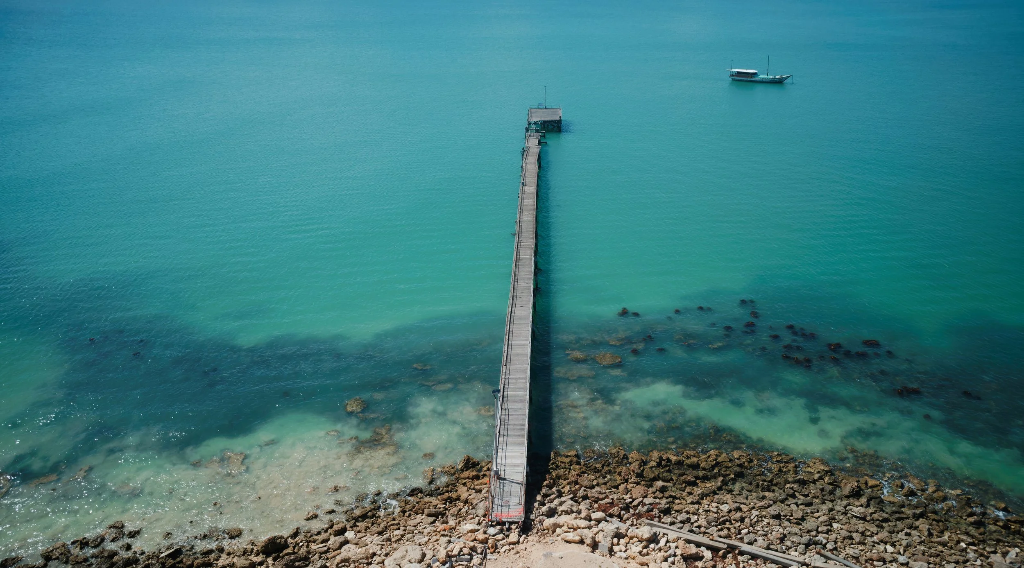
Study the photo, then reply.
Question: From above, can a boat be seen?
Yes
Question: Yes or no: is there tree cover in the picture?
No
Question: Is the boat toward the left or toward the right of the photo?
right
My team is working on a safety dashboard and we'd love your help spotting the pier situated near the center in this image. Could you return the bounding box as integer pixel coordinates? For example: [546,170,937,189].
[489,144,546,529]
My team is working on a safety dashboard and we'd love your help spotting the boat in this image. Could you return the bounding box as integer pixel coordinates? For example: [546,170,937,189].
[726,56,794,84]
